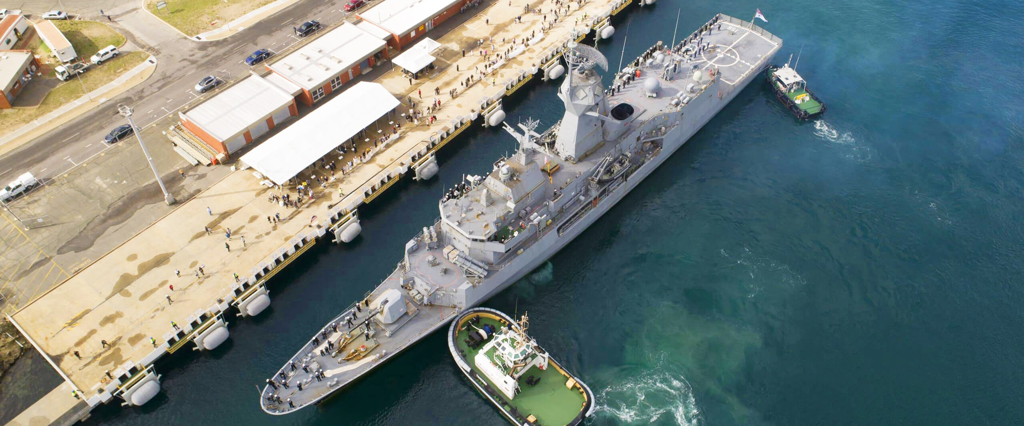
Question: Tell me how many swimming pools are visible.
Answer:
0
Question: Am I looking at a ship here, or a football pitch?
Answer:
ship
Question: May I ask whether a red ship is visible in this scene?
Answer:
No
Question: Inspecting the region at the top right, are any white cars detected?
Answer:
No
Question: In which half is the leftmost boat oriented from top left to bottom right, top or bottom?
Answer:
bottom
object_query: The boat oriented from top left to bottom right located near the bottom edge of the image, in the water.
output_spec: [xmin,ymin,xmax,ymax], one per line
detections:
[442,303,595,426]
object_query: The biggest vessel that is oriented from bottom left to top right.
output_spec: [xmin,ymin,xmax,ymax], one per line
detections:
[246,6,783,419]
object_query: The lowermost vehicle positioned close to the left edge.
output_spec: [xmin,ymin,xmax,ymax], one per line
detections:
[0,172,33,202]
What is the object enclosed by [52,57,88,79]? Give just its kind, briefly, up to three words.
truck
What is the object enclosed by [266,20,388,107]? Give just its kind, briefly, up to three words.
shed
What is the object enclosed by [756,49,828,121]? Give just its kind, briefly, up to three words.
boat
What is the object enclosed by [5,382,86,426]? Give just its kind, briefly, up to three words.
pier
